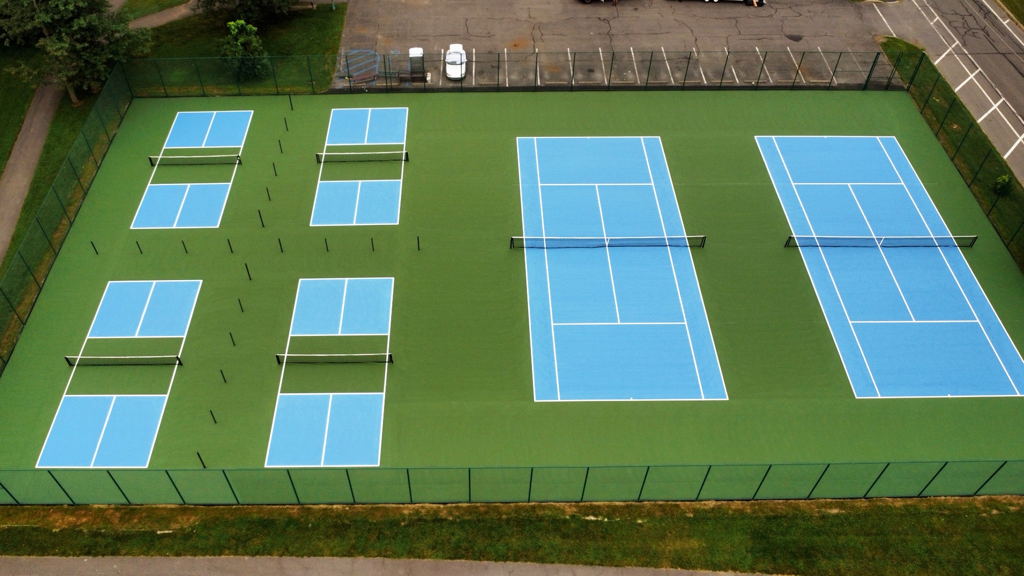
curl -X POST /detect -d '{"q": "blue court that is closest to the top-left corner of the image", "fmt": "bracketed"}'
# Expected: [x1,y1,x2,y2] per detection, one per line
[131,110,253,229]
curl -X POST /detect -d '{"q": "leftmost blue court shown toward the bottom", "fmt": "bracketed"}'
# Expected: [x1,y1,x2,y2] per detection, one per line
[35,280,202,468]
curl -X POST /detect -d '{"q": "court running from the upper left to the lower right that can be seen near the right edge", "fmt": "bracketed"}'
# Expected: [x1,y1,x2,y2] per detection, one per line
[755,135,1024,397]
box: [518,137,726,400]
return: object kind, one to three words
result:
tennis court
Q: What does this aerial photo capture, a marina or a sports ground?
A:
sports ground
